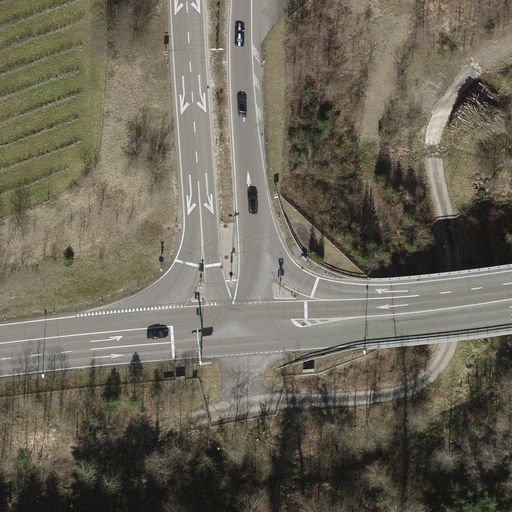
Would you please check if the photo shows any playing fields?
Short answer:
No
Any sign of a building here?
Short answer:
No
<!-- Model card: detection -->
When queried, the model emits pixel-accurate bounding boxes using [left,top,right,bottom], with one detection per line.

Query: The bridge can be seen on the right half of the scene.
[372,264,512,349]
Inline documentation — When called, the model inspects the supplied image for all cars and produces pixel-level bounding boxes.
[234,25,245,47]
[236,96,248,118]
[147,327,168,338]
[248,191,258,214]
